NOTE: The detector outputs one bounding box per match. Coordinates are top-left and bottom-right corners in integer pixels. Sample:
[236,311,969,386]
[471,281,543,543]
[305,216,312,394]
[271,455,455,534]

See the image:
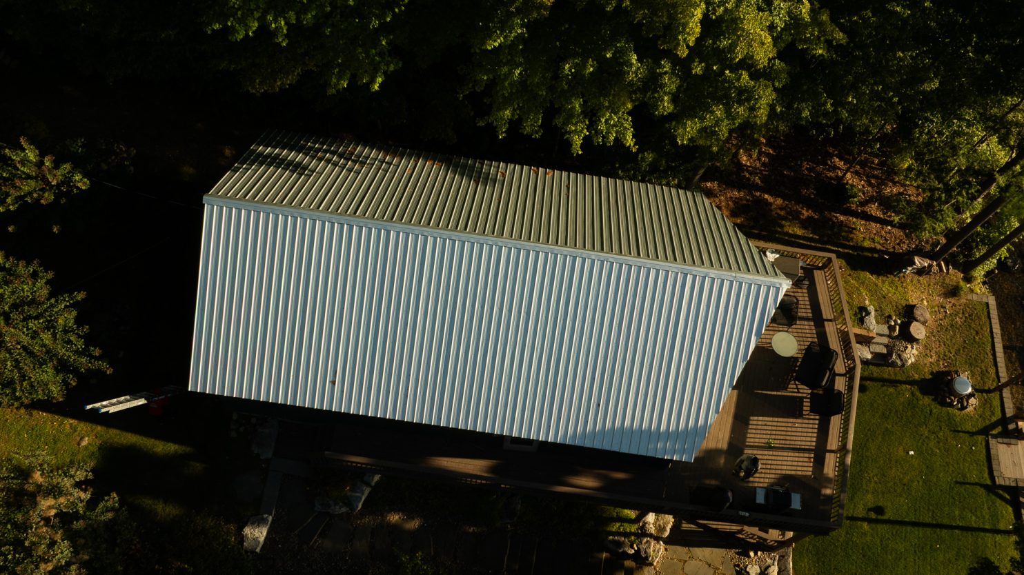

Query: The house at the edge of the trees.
[188,128,794,462]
